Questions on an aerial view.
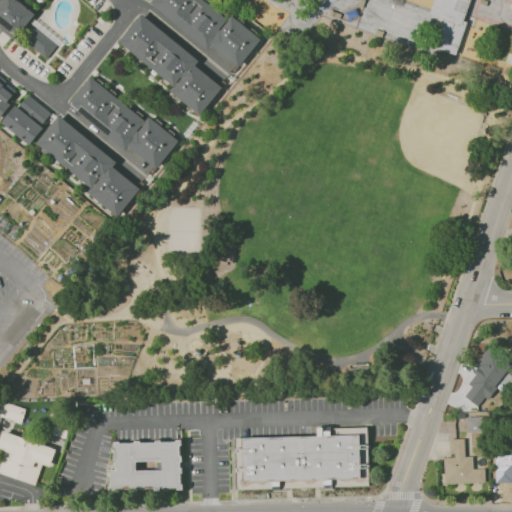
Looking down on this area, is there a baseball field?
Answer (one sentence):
Yes, there's a baseball field down there.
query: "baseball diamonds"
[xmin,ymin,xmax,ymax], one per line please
[206,62,483,358]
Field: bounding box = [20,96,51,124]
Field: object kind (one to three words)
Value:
building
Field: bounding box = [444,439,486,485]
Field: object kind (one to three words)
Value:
house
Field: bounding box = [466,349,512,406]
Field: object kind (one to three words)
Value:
house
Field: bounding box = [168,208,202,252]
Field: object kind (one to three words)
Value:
sports court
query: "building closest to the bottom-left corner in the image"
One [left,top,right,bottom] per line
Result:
[0,432,54,487]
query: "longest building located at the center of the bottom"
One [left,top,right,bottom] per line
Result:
[234,428,370,490]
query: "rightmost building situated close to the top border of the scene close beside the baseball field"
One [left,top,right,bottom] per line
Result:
[430,0,472,55]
